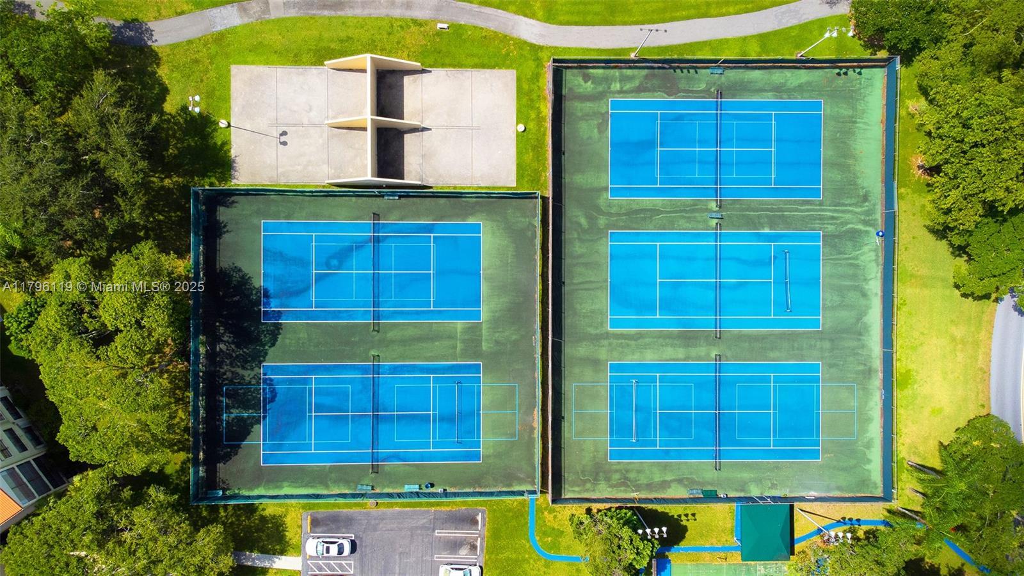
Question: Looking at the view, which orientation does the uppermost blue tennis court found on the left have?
from left to right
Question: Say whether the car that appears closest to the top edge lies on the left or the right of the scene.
left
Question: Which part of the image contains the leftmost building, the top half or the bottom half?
bottom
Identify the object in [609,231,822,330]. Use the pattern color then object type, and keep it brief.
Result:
blue tennis court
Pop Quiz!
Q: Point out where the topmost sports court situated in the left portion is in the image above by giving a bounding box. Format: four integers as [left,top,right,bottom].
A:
[231,65,516,186]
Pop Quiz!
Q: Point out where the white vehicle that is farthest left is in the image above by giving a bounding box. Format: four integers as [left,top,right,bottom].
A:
[307,534,352,557]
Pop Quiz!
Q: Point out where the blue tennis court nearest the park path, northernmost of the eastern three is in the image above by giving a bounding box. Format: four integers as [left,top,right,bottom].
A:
[610,98,822,199]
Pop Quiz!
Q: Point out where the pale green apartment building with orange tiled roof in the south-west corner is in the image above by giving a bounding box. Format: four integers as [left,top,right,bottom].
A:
[0,381,72,525]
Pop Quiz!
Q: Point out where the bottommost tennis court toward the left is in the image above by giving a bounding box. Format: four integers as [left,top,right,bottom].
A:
[225,363,518,465]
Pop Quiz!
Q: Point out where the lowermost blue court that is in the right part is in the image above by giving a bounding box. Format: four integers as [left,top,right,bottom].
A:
[573,362,856,462]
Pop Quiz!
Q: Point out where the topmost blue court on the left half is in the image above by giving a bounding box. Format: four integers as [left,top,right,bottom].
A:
[262,221,482,322]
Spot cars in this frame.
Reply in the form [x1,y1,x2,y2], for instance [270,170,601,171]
[440,562,482,576]
[307,534,352,557]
